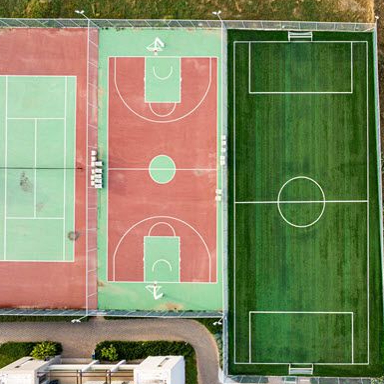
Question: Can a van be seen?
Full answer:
No, there is no van in the image.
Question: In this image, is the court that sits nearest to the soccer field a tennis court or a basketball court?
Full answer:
Looking closely, the court that sits nearest to the soccer field is a basketball court.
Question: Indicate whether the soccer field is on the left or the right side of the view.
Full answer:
The soccer field appears in the right half of the scene.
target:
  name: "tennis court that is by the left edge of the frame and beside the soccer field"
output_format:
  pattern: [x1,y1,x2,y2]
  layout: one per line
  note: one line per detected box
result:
[0,27,98,310]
